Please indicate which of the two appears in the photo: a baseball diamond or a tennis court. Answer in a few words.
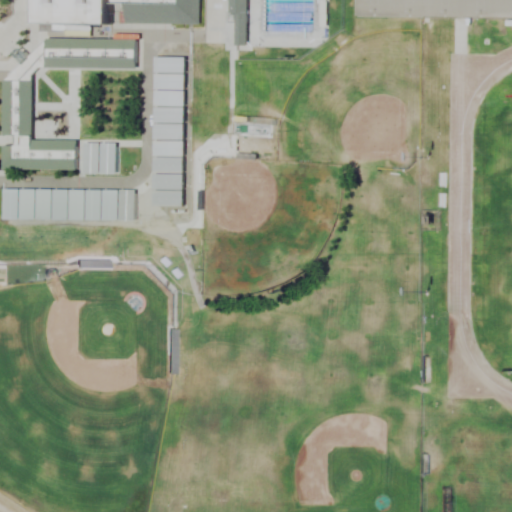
baseball diamond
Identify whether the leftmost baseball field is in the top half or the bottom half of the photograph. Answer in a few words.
bottom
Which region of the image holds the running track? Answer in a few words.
right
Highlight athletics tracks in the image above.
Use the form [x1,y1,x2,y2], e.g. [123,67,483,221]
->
[448,46,512,410]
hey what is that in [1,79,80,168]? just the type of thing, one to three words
building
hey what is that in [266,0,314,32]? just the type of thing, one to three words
swimming pool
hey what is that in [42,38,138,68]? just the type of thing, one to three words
building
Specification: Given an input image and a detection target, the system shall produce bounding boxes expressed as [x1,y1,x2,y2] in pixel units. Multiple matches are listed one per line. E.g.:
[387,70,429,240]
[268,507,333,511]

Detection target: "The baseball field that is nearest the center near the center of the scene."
[205,158,343,296]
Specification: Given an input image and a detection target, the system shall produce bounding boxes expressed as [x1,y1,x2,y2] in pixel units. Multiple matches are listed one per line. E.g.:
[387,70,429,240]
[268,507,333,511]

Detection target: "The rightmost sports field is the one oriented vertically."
[474,72,512,380]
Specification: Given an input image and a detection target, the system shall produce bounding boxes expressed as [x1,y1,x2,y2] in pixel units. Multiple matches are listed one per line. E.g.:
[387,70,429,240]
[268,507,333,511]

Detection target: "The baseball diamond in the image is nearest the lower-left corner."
[0,266,174,512]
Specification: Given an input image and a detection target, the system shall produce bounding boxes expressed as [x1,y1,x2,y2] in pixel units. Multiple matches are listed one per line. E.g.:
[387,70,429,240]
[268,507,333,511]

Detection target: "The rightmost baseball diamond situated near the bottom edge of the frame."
[296,414,388,506]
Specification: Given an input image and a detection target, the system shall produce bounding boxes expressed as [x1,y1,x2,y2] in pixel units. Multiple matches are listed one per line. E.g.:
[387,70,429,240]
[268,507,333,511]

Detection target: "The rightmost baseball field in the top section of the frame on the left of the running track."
[278,30,421,168]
